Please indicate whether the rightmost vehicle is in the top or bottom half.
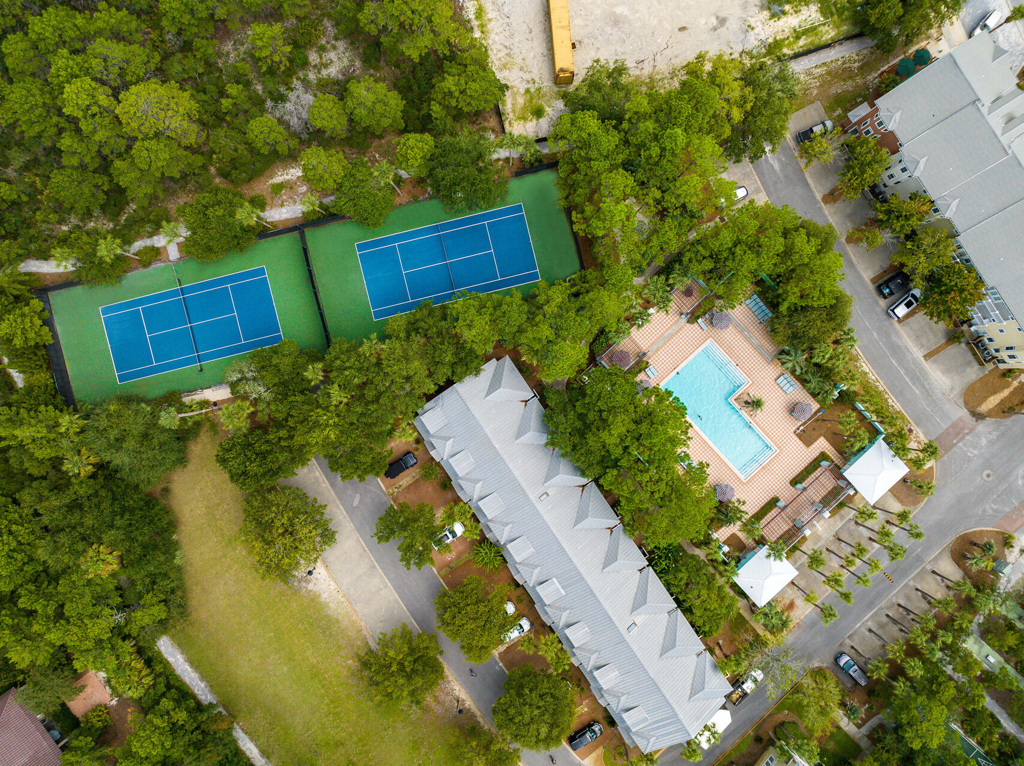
top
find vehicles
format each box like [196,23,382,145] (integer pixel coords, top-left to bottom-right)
[885,291,921,318]
[437,523,467,553]
[835,652,869,687]
[715,185,749,210]
[568,722,603,752]
[499,618,533,644]
[969,6,1005,33]
[724,668,764,708]
[795,119,834,145]
[872,271,911,299]
[385,453,418,479]
[502,600,518,620]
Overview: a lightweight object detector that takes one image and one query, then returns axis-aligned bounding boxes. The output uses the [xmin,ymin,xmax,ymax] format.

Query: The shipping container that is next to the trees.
[547,0,574,85]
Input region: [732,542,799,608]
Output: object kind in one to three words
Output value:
building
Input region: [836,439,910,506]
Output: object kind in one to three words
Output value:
building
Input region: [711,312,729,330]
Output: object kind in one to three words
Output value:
umbrella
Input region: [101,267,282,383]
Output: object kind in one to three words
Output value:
tennis court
